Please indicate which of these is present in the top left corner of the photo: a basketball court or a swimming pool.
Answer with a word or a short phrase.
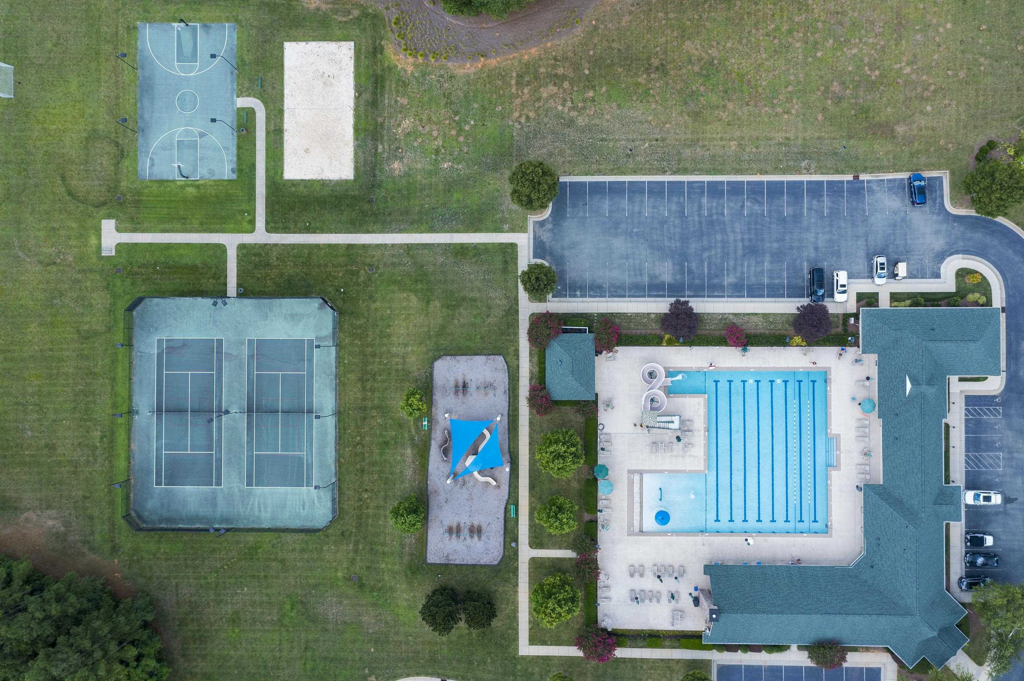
basketball court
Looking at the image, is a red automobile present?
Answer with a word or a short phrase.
No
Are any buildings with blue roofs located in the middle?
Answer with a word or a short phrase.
Yes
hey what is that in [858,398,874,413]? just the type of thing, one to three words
umbrella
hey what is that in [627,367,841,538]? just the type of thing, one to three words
swimming pool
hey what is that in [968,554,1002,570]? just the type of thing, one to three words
car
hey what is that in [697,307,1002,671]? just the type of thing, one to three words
building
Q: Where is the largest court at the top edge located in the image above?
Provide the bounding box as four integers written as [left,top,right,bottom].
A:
[138,23,237,179]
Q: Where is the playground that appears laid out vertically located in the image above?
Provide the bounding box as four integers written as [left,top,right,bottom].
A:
[425,354,511,567]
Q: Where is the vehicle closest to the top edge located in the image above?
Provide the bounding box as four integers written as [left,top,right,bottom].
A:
[909,174,928,206]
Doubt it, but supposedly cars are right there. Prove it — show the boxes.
[809,268,827,302]
[968,554,1002,570]
[969,534,996,549]
[965,491,1004,507]
[909,174,928,206]
[872,255,889,285]
[961,577,993,592]
[833,271,850,301]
